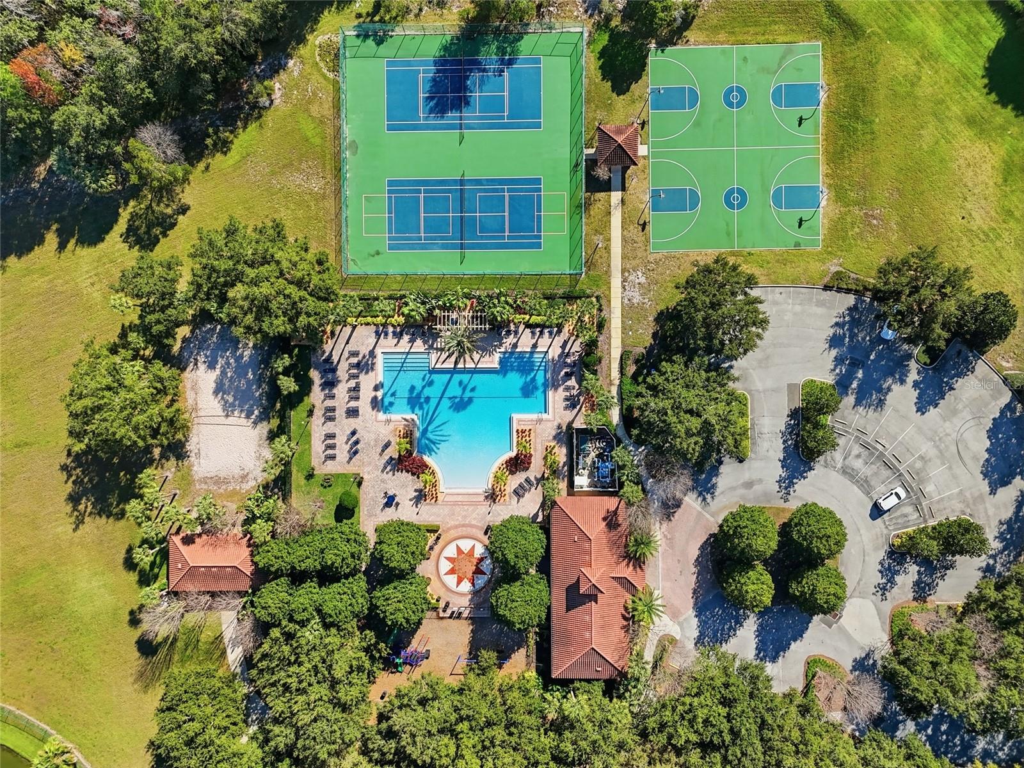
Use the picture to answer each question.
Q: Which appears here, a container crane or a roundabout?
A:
roundabout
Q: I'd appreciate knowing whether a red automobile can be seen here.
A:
No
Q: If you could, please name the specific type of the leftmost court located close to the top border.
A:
tennis court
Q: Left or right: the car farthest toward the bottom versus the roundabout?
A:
on the right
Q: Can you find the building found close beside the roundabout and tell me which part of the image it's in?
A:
bottom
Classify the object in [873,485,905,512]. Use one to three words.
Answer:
car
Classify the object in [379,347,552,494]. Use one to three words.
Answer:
swimming pool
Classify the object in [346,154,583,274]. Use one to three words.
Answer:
tennis court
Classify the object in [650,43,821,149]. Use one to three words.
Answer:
basketball court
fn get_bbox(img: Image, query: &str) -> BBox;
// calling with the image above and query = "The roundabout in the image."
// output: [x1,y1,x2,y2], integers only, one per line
[704,479,863,630]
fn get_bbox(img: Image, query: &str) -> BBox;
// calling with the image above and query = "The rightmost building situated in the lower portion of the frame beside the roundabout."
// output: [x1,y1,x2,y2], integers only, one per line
[550,497,646,679]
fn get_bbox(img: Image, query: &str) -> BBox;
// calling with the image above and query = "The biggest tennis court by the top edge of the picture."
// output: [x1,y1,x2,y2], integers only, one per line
[345,33,583,156]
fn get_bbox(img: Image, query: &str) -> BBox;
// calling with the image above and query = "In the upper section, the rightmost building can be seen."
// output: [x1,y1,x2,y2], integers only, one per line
[597,124,639,170]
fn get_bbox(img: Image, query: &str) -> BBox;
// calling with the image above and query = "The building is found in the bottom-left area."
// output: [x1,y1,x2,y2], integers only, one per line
[168,533,266,591]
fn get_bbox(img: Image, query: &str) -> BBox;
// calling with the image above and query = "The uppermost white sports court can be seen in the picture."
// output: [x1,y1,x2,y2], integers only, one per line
[180,319,277,493]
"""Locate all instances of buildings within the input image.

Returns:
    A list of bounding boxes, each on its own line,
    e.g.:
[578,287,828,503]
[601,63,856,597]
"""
[550,497,646,679]
[168,533,266,591]
[597,124,639,170]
